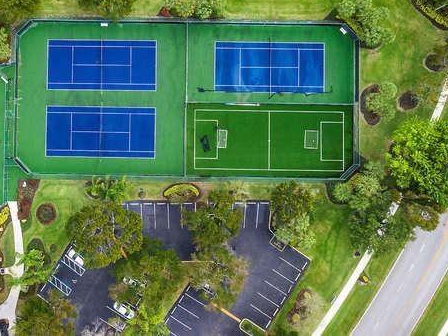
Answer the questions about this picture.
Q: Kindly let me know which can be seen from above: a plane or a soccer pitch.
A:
soccer pitch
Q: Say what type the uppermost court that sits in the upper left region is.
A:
tennis court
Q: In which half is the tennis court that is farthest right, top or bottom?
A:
top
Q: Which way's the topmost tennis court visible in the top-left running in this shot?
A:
from left to right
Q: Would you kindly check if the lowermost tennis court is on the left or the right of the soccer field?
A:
to the left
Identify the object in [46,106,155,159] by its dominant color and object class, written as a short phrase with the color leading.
blue tennis court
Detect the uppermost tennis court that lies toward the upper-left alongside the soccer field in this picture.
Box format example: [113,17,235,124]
[47,40,157,91]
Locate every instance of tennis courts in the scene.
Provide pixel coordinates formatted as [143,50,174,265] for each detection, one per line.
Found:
[46,106,155,159]
[47,40,157,91]
[215,42,325,93]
